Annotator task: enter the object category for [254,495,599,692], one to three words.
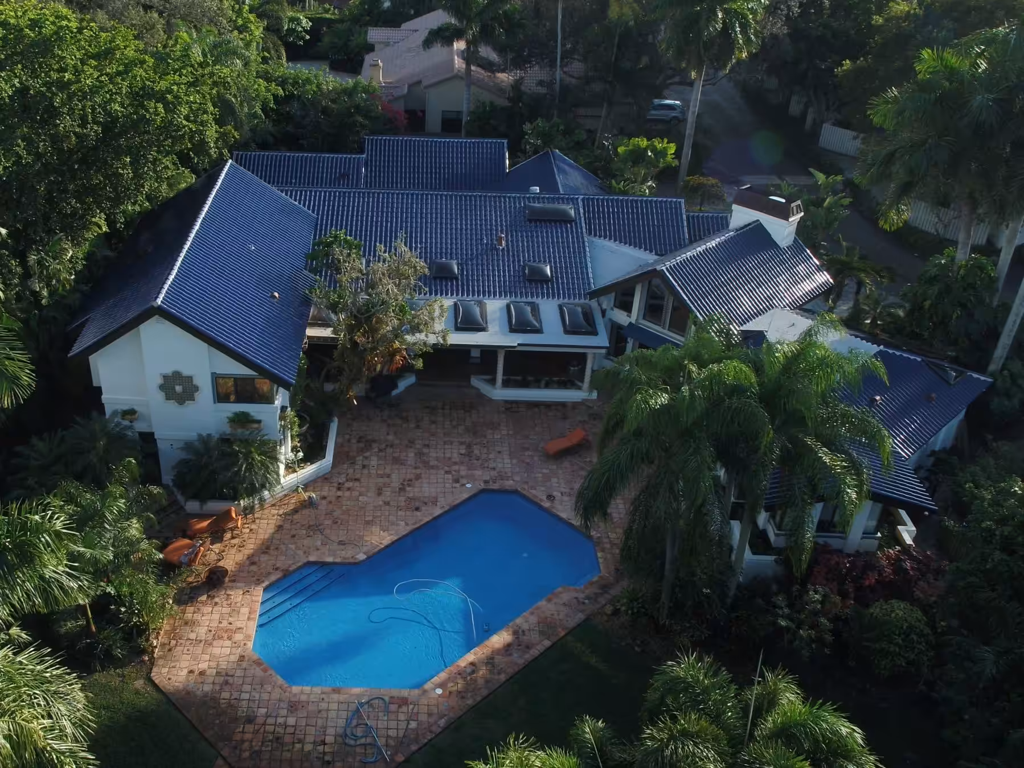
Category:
swimming pool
